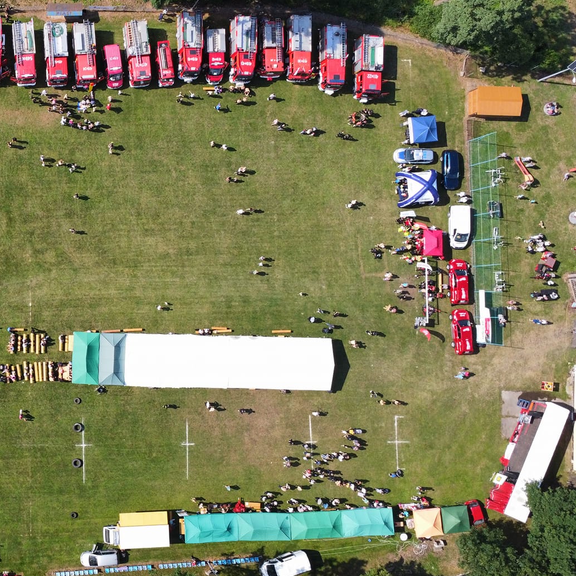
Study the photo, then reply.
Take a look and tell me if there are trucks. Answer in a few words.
Yes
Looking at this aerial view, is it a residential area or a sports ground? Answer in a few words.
sports ground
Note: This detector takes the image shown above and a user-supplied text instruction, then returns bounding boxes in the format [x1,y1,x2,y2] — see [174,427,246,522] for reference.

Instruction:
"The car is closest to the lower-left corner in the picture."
[80,543,118,569]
